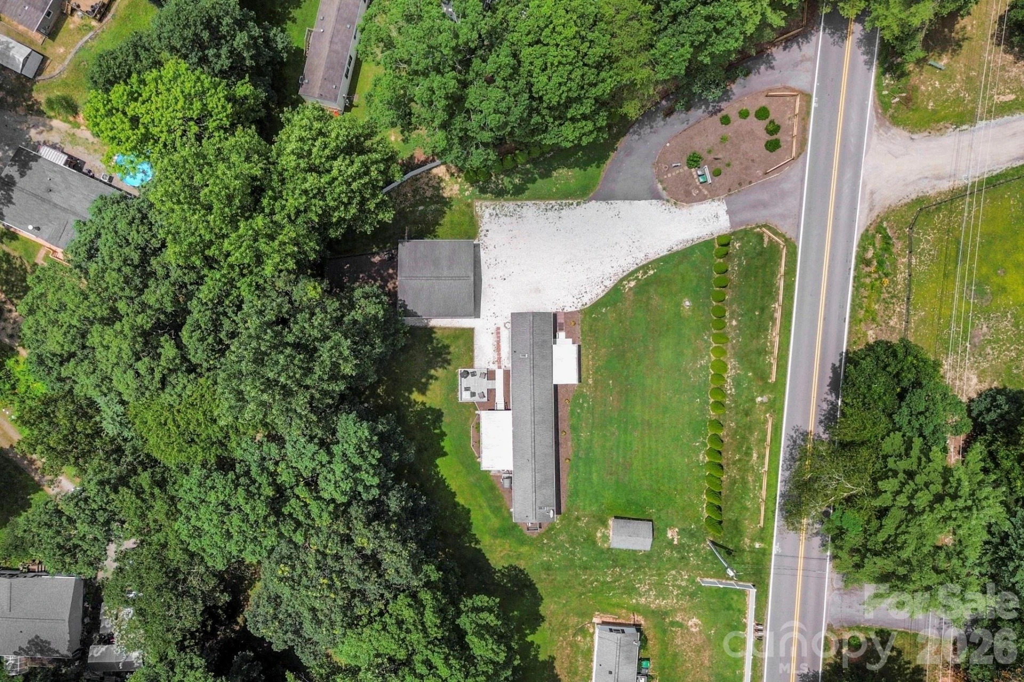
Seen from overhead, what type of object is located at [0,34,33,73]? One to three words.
shed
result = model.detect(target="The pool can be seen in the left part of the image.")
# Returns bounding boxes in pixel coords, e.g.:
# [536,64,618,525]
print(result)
[110,155,156,190]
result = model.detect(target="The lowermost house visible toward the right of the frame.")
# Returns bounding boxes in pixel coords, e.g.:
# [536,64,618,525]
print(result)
[592,623,640,682]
